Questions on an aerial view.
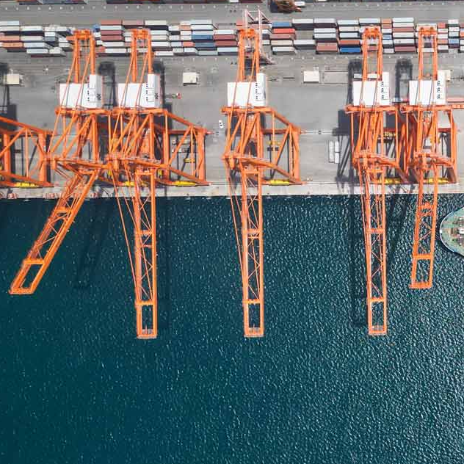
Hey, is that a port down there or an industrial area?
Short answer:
port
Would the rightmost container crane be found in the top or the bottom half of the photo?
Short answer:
top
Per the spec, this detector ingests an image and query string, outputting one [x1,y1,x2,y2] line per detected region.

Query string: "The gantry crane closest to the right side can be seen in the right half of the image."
[397,25,464,289]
